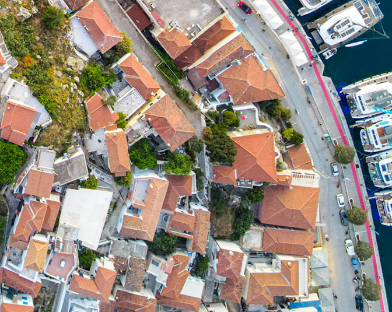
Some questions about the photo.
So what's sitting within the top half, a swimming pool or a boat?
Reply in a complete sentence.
The one visible within the top half is a boat.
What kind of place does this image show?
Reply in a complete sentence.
It's a residential area.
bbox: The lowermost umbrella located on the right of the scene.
[315,286,335,312]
